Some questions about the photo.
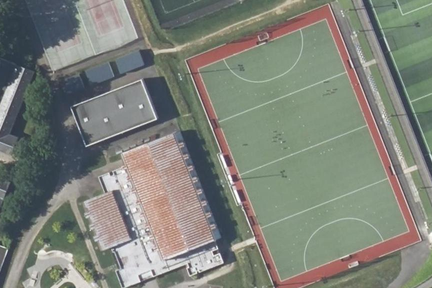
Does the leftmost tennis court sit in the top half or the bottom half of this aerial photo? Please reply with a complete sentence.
The top half of the photo is where the leftmost tennis court is.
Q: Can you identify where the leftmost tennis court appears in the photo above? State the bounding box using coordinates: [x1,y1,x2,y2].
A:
[26,0,94,71]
